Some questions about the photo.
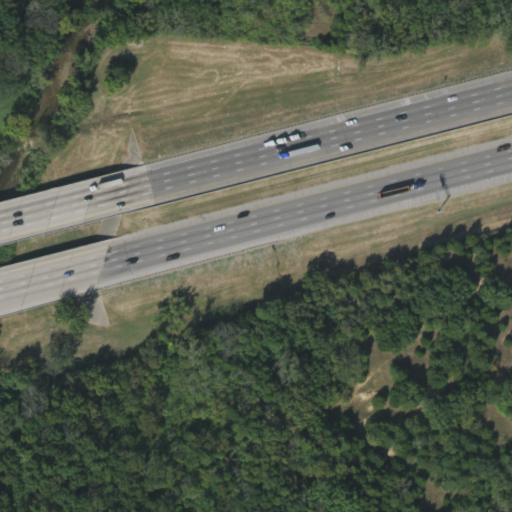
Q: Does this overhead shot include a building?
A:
No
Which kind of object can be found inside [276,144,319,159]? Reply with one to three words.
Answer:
vehicle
